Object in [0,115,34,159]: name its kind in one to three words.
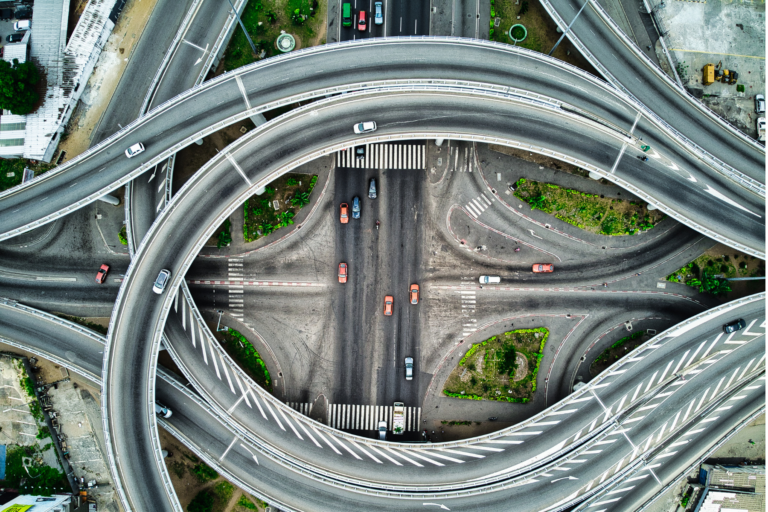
shed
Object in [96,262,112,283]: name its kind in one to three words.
car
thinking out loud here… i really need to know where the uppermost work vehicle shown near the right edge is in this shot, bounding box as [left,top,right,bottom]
[714,61,738,84]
